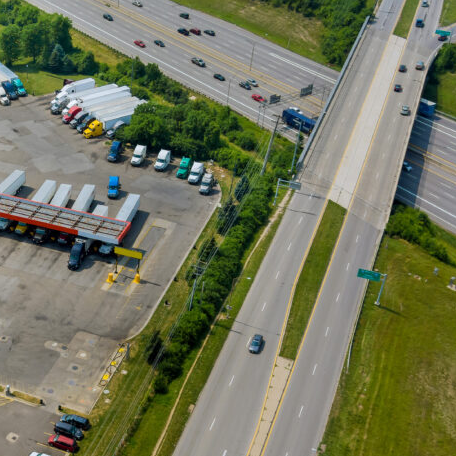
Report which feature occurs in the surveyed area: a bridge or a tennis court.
bridge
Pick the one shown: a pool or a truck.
truck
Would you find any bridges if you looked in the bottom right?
No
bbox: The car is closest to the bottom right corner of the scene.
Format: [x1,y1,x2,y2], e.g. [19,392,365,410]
[246,331,265,353]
